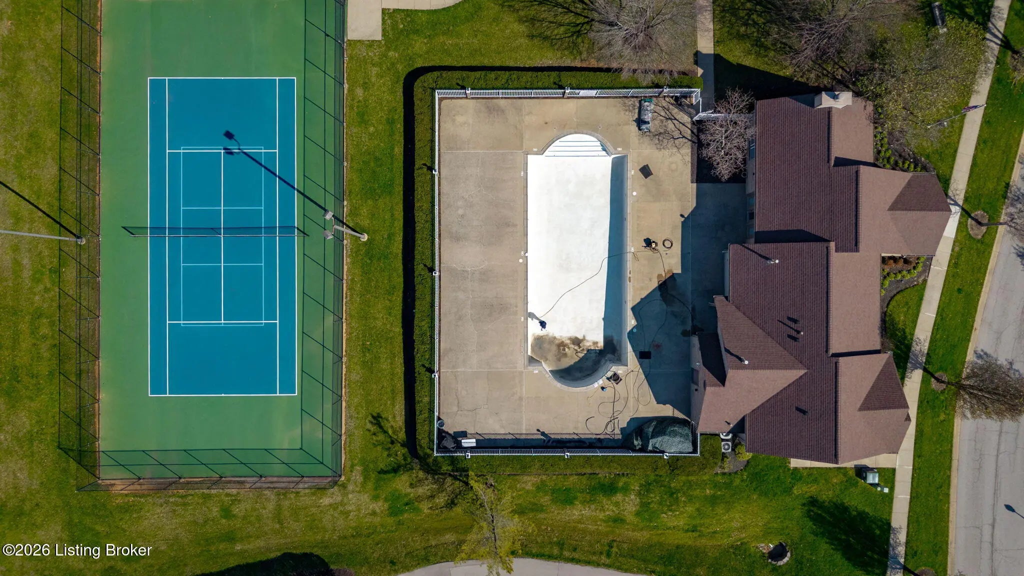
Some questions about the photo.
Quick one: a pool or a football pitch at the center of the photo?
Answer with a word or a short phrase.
pool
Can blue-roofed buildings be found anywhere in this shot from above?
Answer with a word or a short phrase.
No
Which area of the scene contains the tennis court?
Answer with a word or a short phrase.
left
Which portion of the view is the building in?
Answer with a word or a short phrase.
right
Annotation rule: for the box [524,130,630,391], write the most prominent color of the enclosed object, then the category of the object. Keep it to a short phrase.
white swimming pool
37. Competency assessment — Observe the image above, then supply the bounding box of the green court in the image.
[100,0,344,478]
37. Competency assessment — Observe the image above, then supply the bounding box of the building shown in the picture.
[687,90,952,464]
